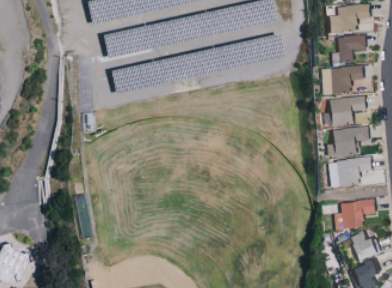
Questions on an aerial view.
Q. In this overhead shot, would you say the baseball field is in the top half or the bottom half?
bottom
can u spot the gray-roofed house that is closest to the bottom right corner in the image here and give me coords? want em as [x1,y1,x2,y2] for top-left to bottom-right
[354,256,382,288]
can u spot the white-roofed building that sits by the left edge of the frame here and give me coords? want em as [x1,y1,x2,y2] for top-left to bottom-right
[0,243,30,283]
